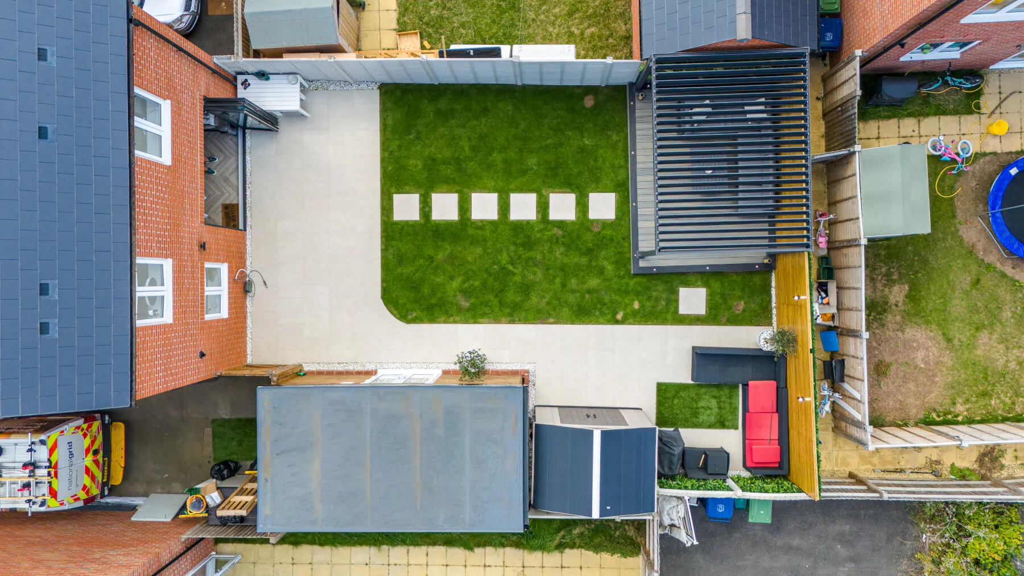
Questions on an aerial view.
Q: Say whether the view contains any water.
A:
No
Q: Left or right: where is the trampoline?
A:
right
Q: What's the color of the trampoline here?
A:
blue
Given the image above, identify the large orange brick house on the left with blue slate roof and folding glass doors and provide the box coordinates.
[0,0,250,417]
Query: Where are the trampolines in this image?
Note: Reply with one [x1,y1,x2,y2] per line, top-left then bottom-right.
[977,157,1024,258]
